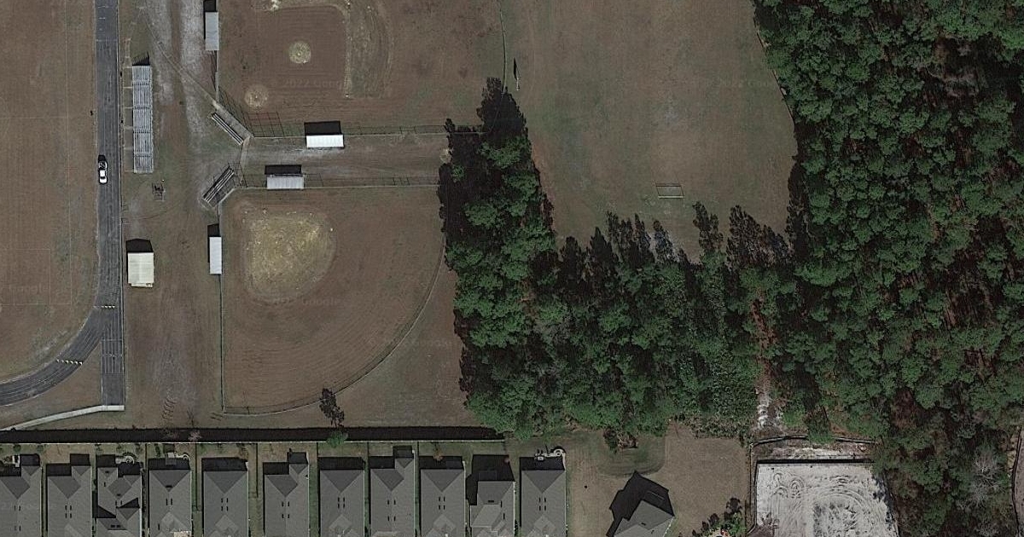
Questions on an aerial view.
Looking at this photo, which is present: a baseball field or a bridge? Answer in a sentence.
Visible in the photo is a baseball field.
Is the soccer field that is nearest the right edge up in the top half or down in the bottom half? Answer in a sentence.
The soccer field that is nearest the right edge is in the top half of the image.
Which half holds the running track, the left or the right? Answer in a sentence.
You can find the running track on the left side of the picture.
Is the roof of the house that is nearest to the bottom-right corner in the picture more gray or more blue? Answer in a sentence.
From above, the roof of the house that is nearest to the bottom-right corner appears gray.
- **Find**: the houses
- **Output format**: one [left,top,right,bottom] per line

[263,464,308,537]
[202,471,248,537]
[371,458,415,537]
[0,467,41,537]
[46,467,92,537]
[320,470,364,537]
[617,493,675,537]
[96,468,141,537]
[521,471,566,537]
[149,470,191,537]
[470,482,515,537]
[421,470,465,537]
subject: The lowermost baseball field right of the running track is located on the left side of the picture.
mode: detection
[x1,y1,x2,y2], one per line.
[224,186,444,414]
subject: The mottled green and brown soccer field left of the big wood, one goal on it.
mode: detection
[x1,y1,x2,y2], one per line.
[509,0,793,245]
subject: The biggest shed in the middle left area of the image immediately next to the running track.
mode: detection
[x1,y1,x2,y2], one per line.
[127,252,153,288]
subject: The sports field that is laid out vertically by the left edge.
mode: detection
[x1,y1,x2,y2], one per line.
[0,0,97,381]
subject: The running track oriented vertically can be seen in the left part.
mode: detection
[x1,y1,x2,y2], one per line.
[0,0,125,406]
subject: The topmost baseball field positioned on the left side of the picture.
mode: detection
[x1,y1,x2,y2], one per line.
[219,0,505,136]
